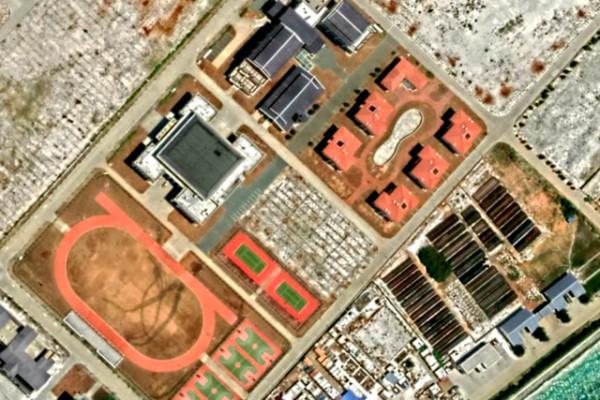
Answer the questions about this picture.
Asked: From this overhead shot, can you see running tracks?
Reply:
Yes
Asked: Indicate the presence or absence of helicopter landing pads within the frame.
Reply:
No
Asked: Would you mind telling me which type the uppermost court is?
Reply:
tennis court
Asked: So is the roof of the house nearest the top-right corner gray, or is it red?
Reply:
red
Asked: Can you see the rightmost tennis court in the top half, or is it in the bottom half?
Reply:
bottom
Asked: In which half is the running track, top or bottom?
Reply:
bottom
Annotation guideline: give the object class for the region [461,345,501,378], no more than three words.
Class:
building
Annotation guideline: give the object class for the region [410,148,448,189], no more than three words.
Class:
house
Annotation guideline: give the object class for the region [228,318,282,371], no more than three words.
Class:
basketball court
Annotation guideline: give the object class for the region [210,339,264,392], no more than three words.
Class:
basketball court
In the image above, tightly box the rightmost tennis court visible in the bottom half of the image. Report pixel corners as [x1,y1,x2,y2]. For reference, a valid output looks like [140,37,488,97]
[266,270,321,327]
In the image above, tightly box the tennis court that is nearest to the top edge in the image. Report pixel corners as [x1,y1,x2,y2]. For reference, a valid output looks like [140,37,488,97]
[221,229,281,290]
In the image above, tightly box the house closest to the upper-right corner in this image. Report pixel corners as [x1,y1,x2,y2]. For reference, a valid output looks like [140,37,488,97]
[444,113,482,154]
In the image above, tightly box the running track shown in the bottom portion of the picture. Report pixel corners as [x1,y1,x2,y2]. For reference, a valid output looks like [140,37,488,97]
[54,190,238,372]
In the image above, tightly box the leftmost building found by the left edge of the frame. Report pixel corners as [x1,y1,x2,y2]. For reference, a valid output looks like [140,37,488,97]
[0,308,64,395]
